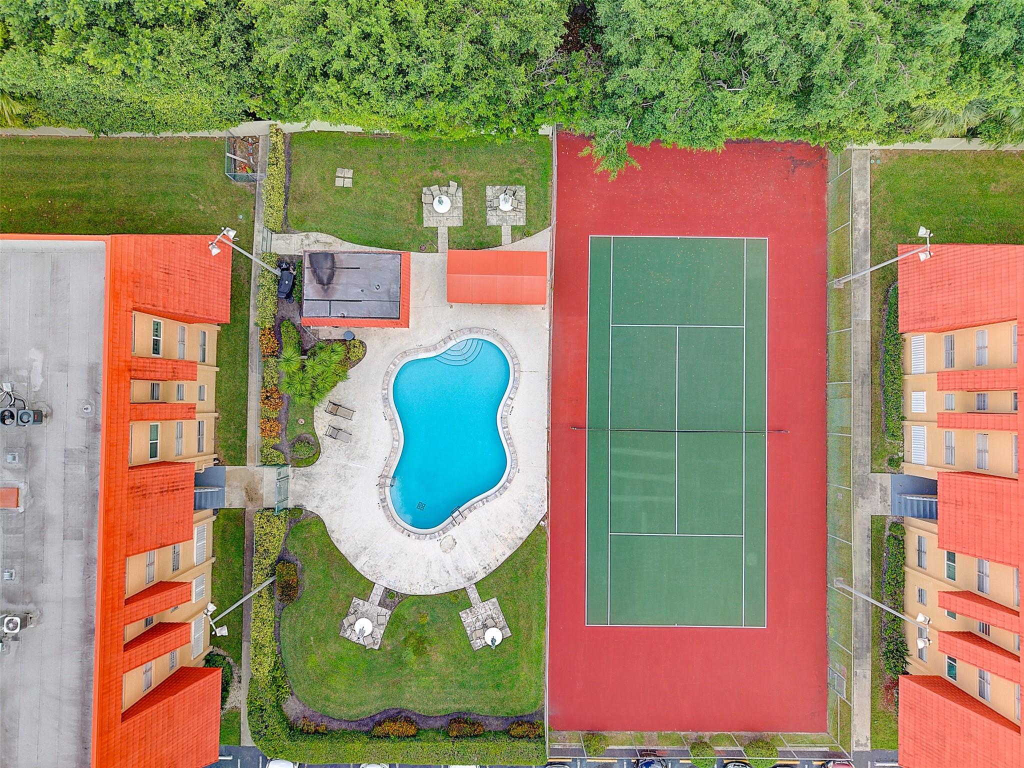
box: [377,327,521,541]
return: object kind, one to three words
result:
swimming pool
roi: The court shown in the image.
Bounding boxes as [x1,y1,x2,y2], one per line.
[551,131,828,732]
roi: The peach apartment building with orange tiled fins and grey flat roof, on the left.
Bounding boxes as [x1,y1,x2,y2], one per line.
[0,232,234,768]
